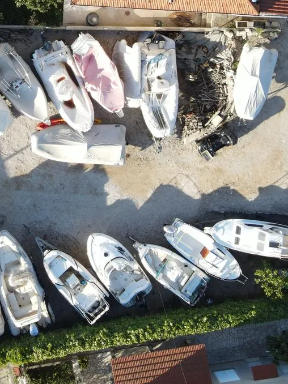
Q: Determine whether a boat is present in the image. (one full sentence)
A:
Yes, the picture does show a boat.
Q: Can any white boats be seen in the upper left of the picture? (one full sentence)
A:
Yes, I can see a white boat in the upper left of the picture.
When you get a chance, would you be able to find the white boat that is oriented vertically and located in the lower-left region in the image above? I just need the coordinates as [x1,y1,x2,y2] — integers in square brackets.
[0,232,49,342]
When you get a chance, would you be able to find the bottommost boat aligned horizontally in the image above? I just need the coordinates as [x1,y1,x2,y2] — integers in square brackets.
[206,217,288,261]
